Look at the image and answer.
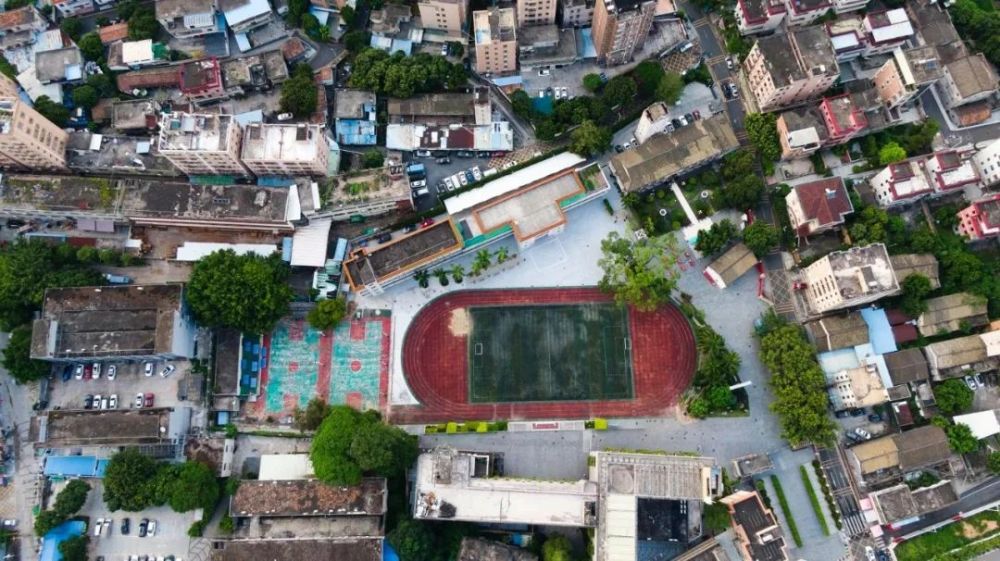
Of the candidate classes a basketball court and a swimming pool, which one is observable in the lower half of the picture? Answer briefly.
basketball court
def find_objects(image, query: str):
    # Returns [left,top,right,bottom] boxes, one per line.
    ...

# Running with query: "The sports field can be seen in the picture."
[467,303,636,405]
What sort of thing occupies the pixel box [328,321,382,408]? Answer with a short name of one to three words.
basketball court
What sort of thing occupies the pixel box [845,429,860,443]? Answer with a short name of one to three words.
vehicle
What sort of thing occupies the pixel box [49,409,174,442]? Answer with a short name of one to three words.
building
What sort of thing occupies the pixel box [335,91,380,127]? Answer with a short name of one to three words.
house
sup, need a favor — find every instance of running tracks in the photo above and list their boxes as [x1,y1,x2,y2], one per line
[390,287,699,420]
